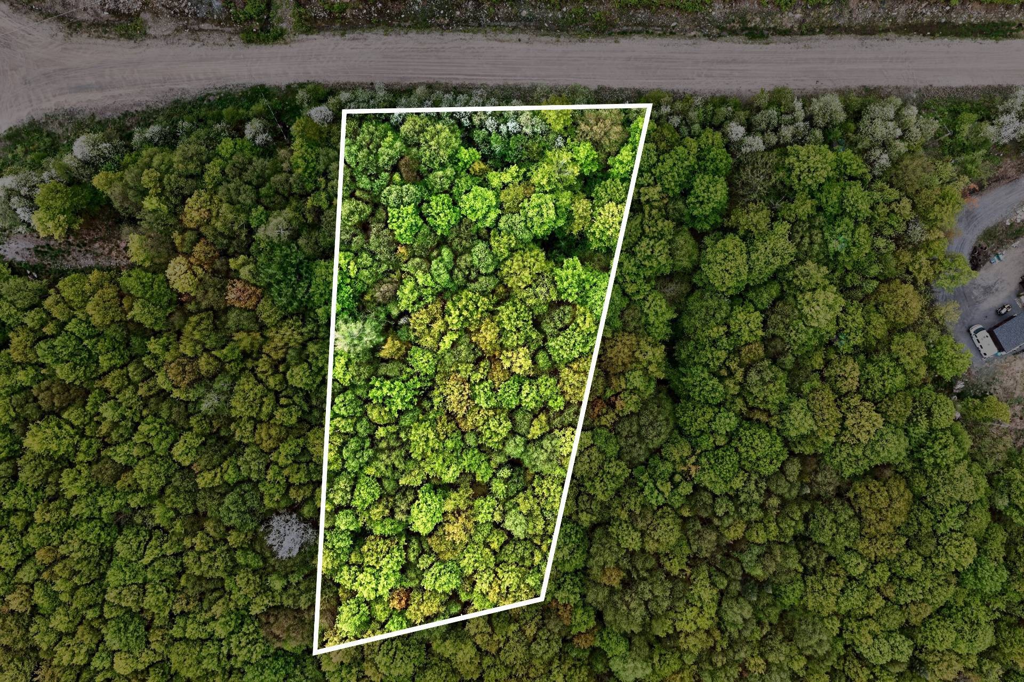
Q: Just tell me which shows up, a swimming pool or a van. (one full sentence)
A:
Of the two, only a van appears.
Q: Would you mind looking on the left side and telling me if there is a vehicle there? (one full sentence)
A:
No, on the left side there is no vehicle.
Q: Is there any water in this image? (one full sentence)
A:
No, the scene doesn't show any water.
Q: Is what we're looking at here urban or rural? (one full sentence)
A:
From above, the setting appears rural.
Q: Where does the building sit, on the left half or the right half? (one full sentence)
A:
It is on the right.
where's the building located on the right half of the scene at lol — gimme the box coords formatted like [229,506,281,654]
[984,307,1024,357]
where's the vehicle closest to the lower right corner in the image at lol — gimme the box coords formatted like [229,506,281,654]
[968,323,997,361]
